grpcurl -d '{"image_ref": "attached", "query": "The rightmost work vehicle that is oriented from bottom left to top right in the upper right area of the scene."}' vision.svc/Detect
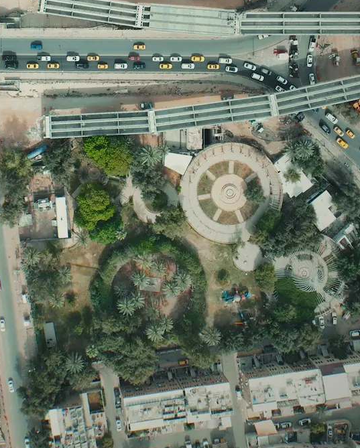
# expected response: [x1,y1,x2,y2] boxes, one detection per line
[331,44,346,64]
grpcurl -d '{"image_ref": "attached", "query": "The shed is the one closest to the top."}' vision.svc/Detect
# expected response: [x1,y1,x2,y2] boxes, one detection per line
[184,128,203,150]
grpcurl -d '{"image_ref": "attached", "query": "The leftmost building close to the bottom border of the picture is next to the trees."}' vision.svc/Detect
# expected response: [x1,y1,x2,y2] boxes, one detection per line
[50,396,90,448]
